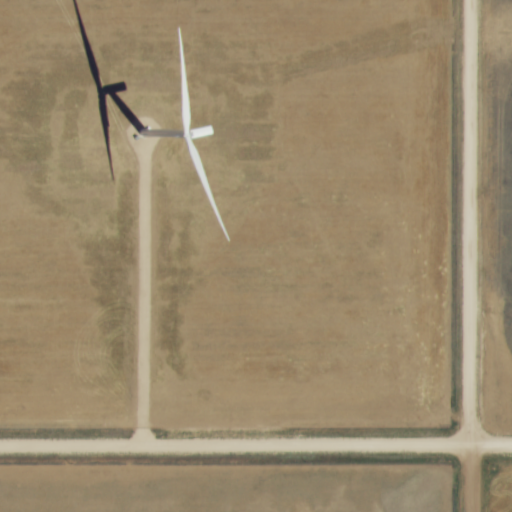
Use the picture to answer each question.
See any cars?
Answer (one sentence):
No, the scene contains no car.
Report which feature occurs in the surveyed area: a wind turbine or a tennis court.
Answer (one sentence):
I can see a wind turbine in this picture.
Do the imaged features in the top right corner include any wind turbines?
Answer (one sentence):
No, no wind turbine can be made out in the top right corner.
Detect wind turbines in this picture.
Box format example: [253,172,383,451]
[136,26,228,240]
